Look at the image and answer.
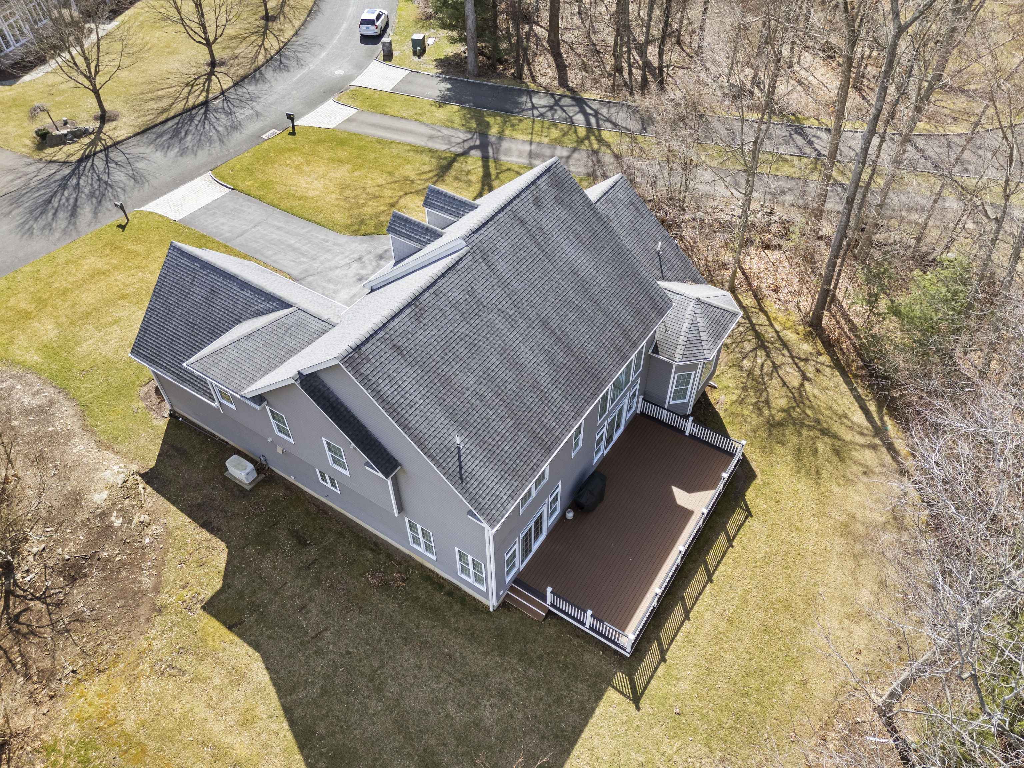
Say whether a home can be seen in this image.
Yes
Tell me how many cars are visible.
1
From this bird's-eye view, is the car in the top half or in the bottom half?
top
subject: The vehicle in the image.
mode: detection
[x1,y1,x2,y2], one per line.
[359,9,391,39]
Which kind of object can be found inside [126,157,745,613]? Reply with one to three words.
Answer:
house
